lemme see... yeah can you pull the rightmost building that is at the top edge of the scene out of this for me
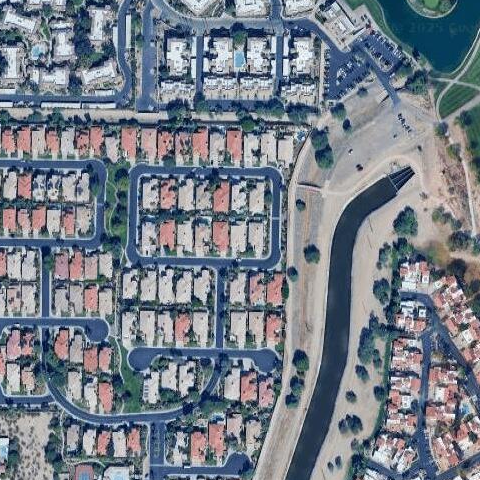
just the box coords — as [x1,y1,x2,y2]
[320,0,357,44]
